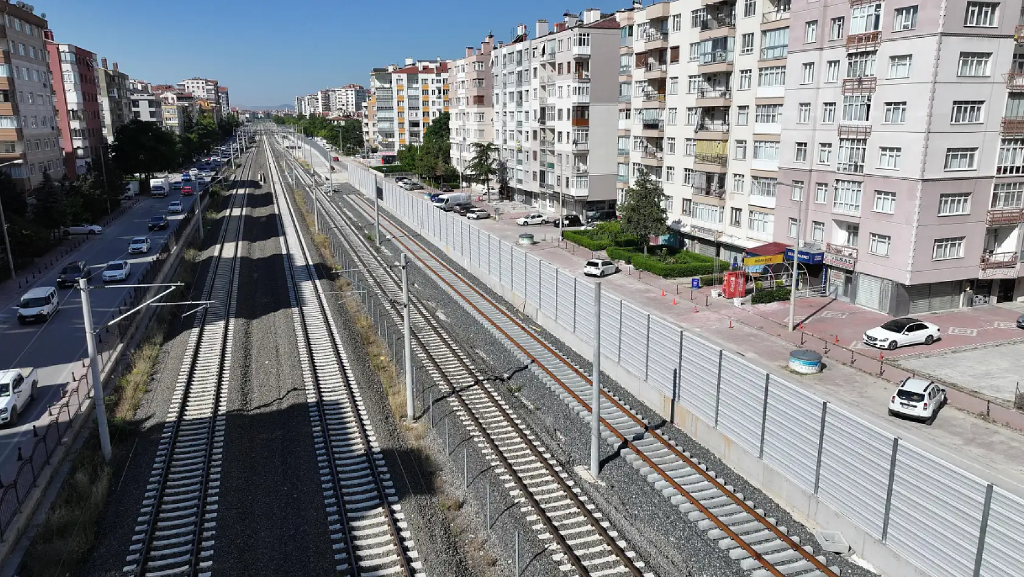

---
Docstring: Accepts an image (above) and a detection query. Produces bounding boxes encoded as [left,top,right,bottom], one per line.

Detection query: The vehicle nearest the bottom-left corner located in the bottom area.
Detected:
[0,366,39,421]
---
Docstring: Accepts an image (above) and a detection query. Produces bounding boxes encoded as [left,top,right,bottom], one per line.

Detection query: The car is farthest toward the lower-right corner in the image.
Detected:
[885,373,949,428]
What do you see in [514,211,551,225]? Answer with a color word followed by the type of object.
white car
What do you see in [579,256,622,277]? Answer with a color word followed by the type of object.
white car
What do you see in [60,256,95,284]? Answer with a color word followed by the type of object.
black car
